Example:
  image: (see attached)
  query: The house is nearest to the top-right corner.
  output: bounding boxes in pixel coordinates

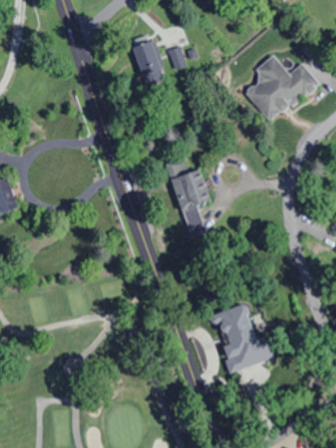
[245,60,319,116]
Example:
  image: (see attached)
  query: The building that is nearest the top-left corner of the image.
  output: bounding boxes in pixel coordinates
[132,40,164,85]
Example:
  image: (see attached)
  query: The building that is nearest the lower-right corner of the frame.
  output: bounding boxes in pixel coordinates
[210,302,274,375]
